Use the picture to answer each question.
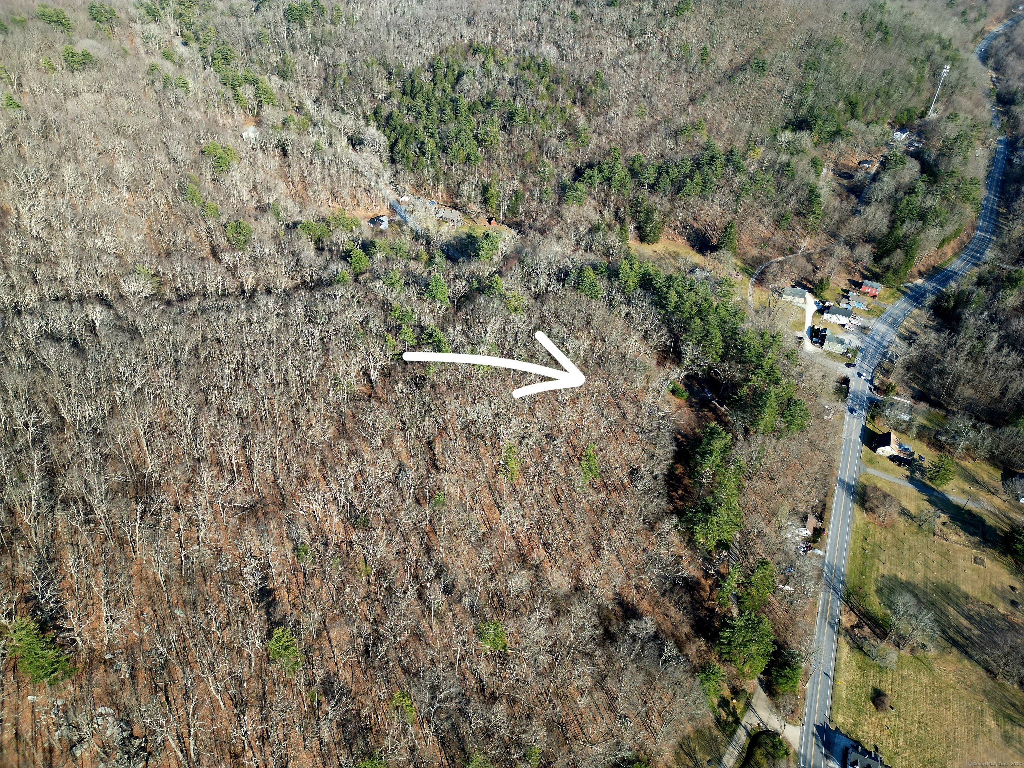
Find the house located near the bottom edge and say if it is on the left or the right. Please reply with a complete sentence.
The house located near the bottom edge is on the right side of the image.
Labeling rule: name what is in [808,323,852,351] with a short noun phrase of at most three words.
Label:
building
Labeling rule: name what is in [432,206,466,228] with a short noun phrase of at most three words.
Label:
house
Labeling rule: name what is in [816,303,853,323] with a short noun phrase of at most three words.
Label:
house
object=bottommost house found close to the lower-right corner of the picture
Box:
[851,735,898,768]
